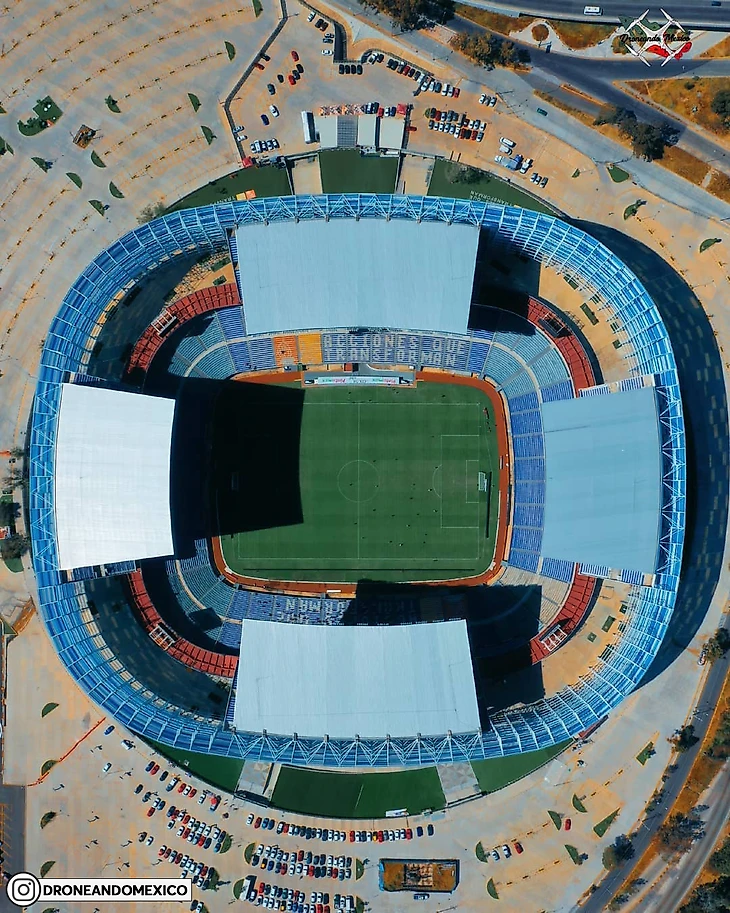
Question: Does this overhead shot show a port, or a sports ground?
sports ground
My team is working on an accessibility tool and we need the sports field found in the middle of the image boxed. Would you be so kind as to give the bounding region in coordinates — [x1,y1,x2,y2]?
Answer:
[218,382,498,580]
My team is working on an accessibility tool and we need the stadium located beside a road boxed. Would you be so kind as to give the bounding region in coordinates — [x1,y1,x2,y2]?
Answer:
[31,194,685,765]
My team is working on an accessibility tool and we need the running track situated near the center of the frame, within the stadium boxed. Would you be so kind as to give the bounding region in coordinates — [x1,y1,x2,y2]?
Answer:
[204,364,513,596]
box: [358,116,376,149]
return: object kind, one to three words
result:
building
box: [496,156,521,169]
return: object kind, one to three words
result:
vehicle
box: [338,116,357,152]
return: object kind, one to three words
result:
building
